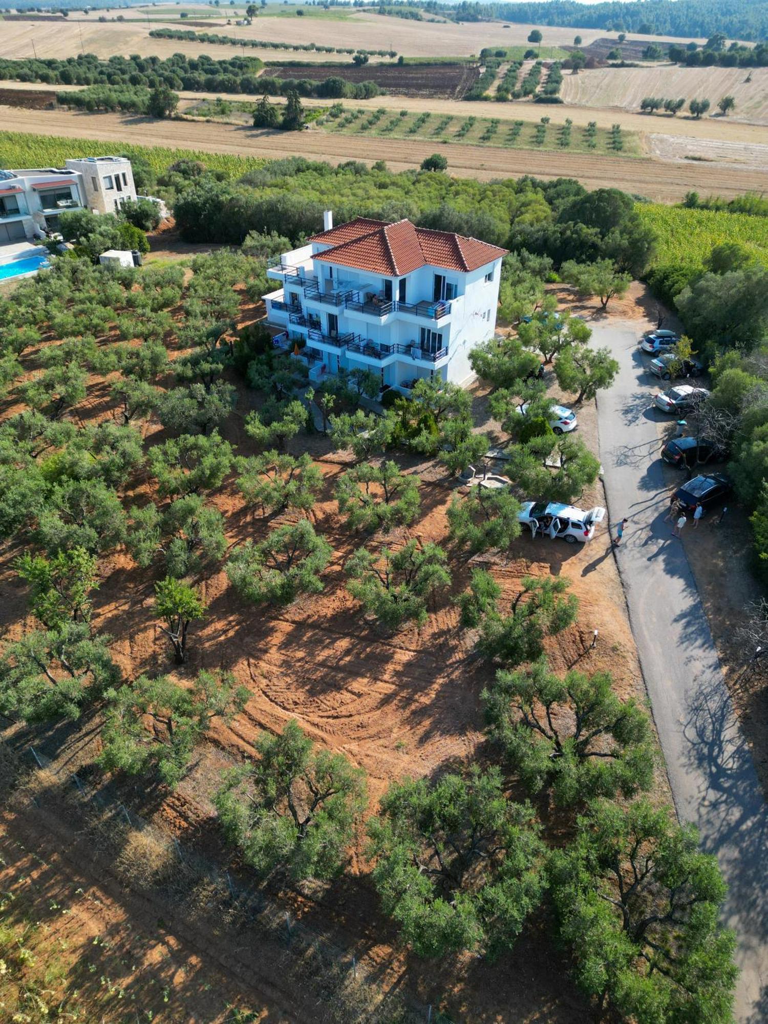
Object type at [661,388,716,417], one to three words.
car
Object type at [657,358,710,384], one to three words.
car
